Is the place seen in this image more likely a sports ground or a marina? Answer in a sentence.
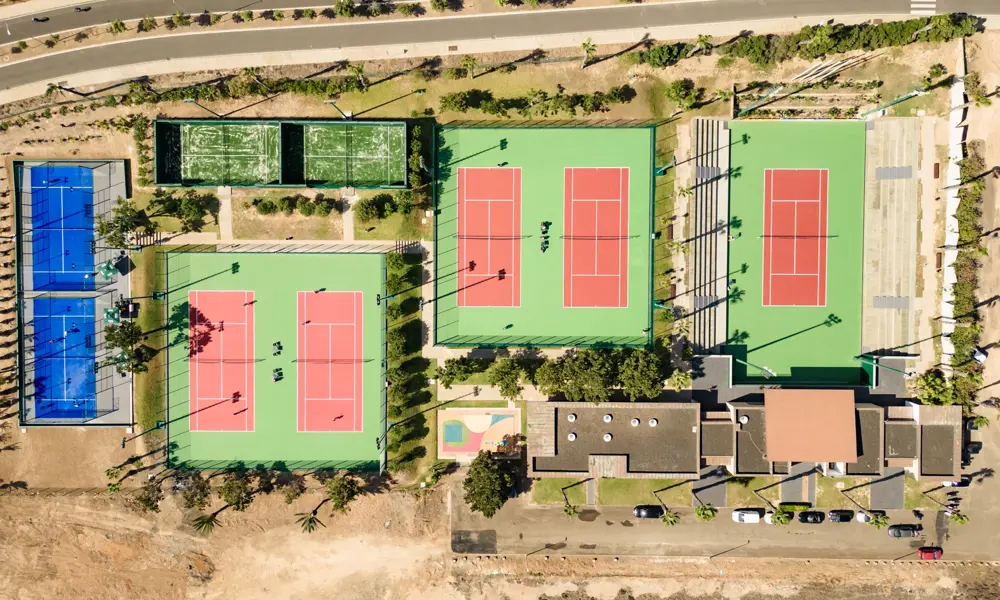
This image shows a sports ground.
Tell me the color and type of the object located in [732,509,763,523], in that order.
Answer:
white vehicle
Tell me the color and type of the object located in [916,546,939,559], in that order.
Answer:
red vehicle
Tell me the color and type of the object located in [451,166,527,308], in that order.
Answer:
red tennis court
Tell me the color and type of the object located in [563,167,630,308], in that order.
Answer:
red tennis court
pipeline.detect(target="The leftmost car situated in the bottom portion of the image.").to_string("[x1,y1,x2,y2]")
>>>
[634,504,661,518]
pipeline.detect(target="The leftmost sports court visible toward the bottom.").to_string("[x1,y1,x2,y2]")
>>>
[5,297,97,425]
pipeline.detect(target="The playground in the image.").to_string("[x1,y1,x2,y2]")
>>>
[438,408,521,458]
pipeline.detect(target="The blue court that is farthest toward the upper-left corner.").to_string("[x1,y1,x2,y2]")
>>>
[2,162,95,292]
